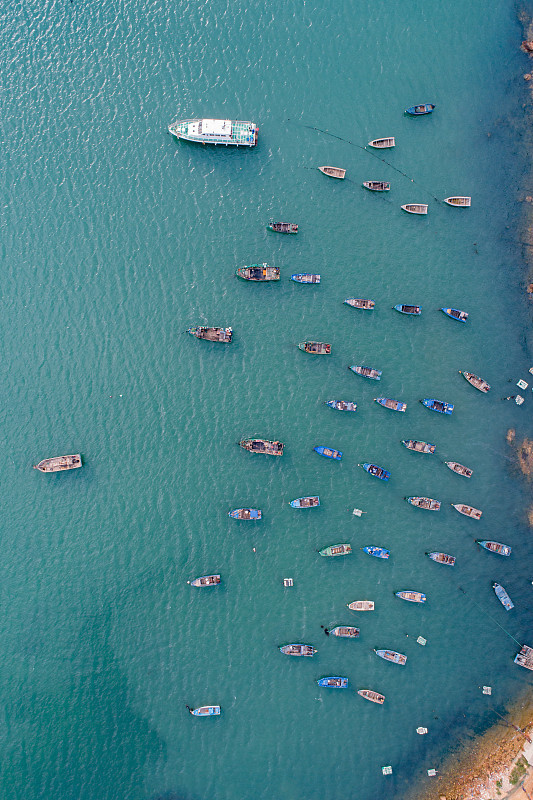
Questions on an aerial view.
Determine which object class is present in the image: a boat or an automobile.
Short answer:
boat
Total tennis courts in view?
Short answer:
0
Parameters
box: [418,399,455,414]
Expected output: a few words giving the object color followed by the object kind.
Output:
blue boat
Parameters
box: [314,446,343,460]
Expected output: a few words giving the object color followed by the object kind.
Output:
blue boat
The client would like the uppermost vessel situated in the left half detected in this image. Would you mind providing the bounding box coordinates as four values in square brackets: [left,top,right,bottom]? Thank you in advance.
[168,118,257,149]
